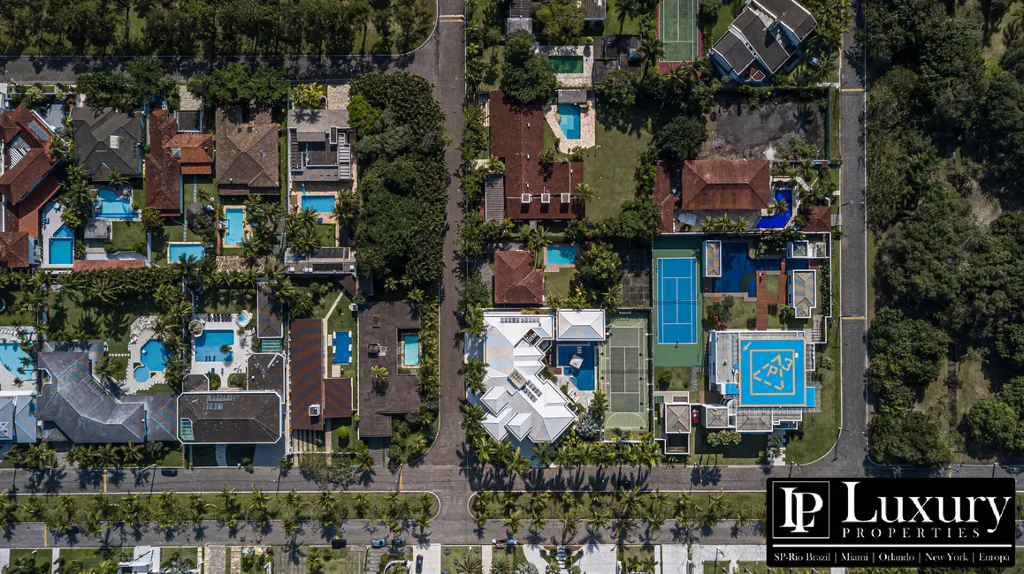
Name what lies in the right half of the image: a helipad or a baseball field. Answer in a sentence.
Looking in the right half of the image, you will find a helipad.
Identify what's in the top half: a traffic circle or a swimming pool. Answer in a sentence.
The feature located in the top half is a swimming pool.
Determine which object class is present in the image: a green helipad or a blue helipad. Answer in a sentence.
There is a blue helipad in the scene.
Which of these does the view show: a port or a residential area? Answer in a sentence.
The picture captures a residential area.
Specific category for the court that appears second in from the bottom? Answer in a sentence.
I'd identify the court that appears second in from the bottom as a tennis court.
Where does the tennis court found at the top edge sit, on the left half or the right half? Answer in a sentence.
It is on the right.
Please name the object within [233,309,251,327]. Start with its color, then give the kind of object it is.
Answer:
white swimming pool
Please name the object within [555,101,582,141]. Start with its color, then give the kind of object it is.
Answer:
blue swimming pool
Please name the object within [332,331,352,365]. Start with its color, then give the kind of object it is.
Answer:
blue swimming pool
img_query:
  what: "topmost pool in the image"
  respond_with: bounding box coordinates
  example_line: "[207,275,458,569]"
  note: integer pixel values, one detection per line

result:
[548,54,585,74]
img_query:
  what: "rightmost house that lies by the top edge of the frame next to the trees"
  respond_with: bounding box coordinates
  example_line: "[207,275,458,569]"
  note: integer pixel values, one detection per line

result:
[708,0,815,84]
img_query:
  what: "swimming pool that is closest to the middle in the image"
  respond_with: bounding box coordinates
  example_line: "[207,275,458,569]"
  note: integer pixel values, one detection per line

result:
[544,243,580,267]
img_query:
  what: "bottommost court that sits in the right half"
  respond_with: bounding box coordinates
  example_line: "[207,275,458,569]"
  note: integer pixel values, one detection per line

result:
[605,312,650,431]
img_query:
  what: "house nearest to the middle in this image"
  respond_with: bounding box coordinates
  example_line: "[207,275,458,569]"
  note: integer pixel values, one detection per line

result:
[495,251,544,304]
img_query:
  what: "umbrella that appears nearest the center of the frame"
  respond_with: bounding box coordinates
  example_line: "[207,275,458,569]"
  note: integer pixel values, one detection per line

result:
[569,353,585,369]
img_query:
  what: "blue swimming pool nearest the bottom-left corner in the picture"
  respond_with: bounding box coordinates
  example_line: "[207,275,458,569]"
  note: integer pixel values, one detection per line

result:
[0,342,34,382]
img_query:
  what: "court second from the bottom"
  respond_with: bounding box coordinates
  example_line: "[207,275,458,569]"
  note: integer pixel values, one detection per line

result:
[655,234,704,365]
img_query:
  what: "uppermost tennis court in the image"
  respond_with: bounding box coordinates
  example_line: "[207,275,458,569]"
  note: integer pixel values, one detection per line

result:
[657,0,703,76]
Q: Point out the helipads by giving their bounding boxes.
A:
[738,337,806,407]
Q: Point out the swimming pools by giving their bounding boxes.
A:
[47,223,76,266]
[555,101,582,141]
[756,188,793,229]
[786,259,809,270]
[544,243,580,267]
[194,329,235,364]
[299,193,337,214]
[713,241,783,297]
[233,309,251,327]
[133,366,151,383]
[138,338,172,373]
[402,332,421,369]
[97,186,132,214]
[548,54,585,74]
[557,344,596,392]
[224,207,245,247]
[332,331,352,365]
[93,213,139,219]
[167,241,206,264]
[0,342,34,382]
